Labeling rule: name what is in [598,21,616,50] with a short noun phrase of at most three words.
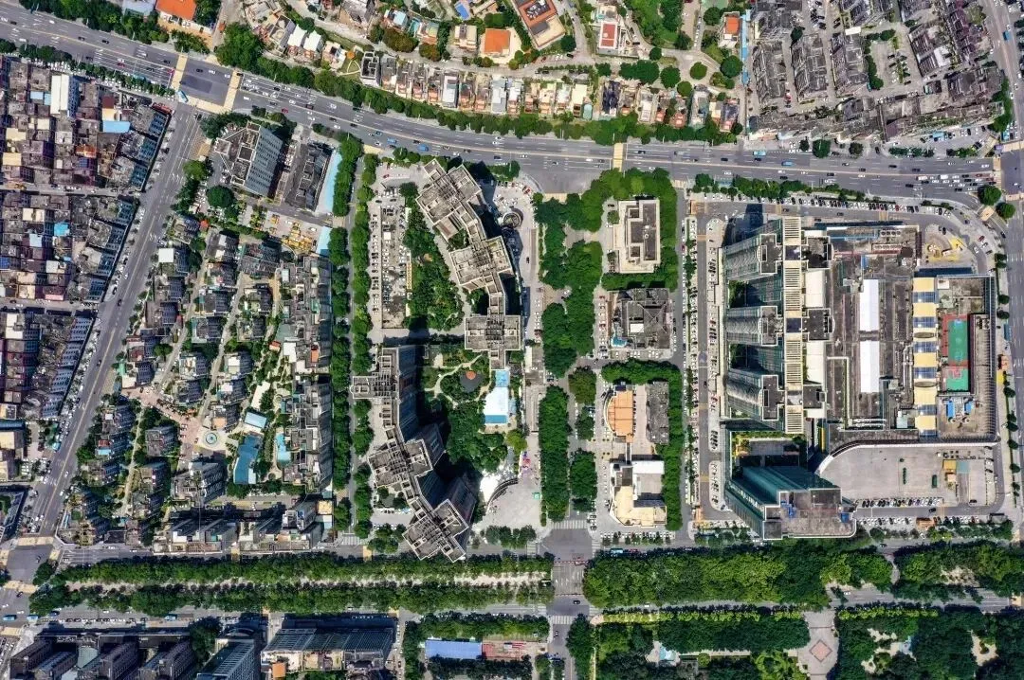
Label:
house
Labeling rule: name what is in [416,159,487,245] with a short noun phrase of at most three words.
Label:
building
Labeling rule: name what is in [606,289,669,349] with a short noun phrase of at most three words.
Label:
building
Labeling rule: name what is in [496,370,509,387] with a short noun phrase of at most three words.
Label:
swimming pool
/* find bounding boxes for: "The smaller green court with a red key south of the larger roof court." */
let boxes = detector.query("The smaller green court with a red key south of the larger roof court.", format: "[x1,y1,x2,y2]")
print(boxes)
[941,367,964,390]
